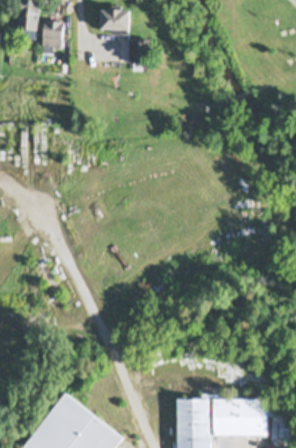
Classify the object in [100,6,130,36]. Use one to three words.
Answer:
house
